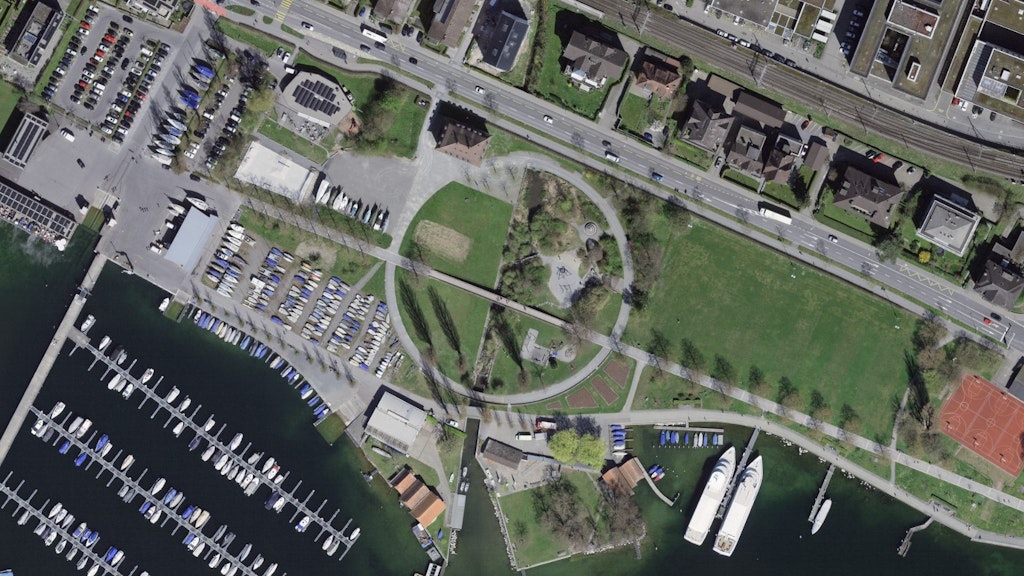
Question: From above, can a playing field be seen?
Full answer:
Yes, a playing field appears in the view.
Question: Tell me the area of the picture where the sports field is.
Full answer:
The sports field appears toward the right of the photo.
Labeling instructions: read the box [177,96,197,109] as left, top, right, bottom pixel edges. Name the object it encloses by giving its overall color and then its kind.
blue boat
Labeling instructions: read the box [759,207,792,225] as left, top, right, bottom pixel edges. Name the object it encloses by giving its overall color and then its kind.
white vehicle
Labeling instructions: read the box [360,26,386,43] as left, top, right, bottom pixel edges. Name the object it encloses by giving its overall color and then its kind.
white vehicle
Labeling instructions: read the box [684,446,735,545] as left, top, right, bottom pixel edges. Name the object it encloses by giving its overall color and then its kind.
white ship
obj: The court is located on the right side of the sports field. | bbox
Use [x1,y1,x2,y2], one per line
[940,374,1024,476]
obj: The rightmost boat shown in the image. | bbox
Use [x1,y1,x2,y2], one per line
[813,499,832,533]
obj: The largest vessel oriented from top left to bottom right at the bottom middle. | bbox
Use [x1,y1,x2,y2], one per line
[409,519,436,552]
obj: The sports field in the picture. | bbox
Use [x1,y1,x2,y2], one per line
[625,212,922,439]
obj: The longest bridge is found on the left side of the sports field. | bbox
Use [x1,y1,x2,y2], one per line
[427,269,557,321]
